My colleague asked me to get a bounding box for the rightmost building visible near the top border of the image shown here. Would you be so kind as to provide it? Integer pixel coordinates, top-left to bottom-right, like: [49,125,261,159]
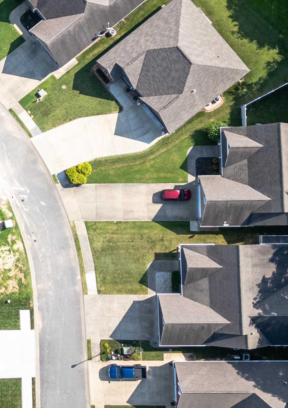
[96,0,250,135]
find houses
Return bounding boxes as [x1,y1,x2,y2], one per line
[96,0,250,135]
[171,358,288,408]
[154,245,288,353]
[20,0,146,68]
[195,124,288,228]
